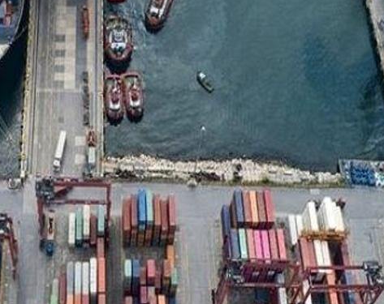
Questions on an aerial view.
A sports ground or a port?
port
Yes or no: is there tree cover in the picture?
No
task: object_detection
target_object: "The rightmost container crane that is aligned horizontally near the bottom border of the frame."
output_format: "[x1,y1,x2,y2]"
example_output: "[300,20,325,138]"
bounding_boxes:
[288,261,384,304]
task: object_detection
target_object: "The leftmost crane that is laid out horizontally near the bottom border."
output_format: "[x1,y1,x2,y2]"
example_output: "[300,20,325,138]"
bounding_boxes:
[211,260,309,304]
